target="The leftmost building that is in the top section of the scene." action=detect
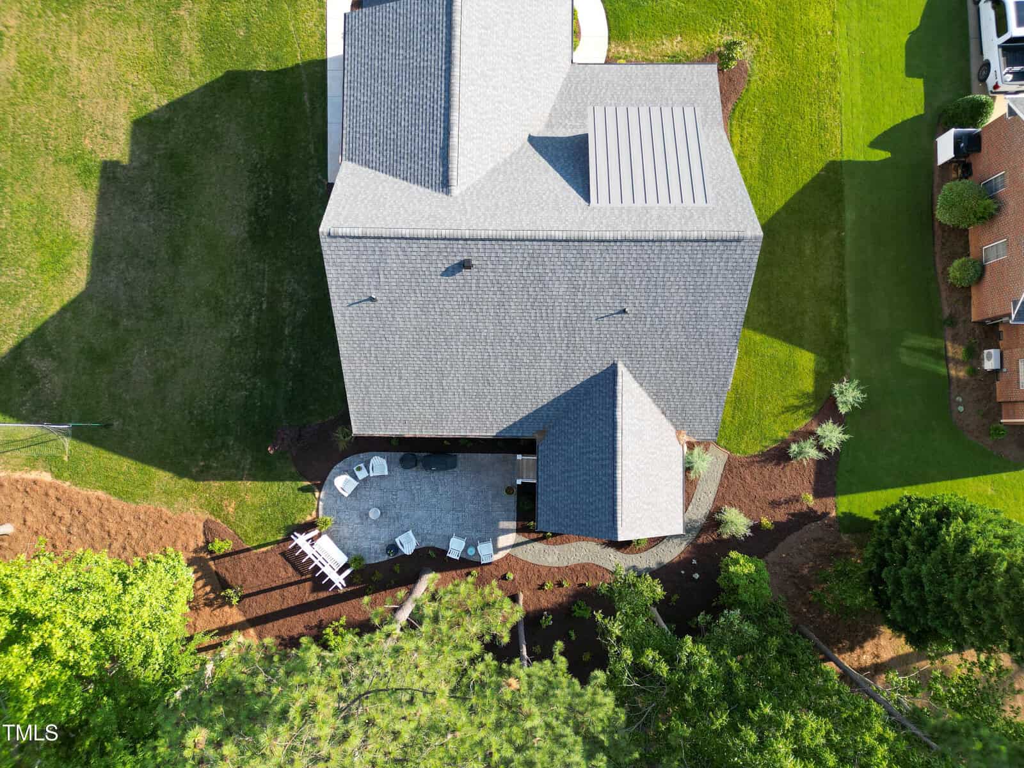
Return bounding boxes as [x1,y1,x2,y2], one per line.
[320,0,762,542]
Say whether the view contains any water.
No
